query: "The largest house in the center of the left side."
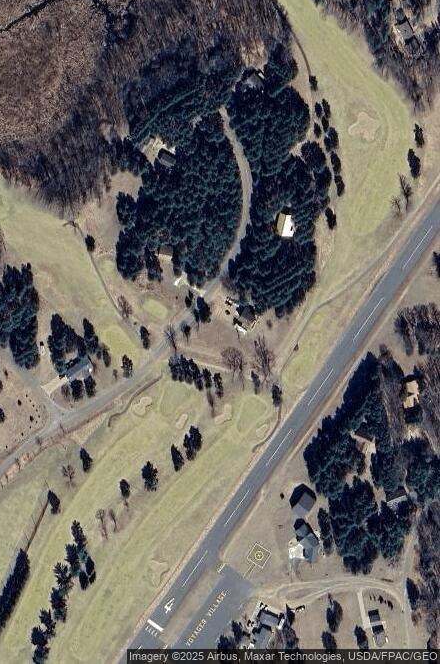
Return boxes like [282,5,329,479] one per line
[63,356,92,380]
